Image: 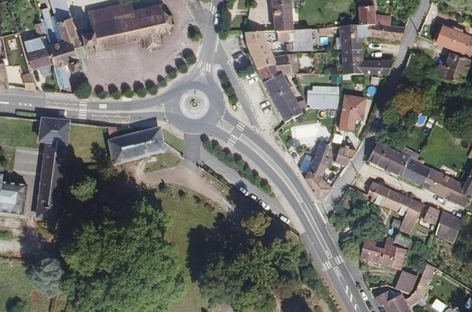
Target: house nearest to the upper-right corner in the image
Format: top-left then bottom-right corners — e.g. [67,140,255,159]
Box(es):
[436,24,472,57]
